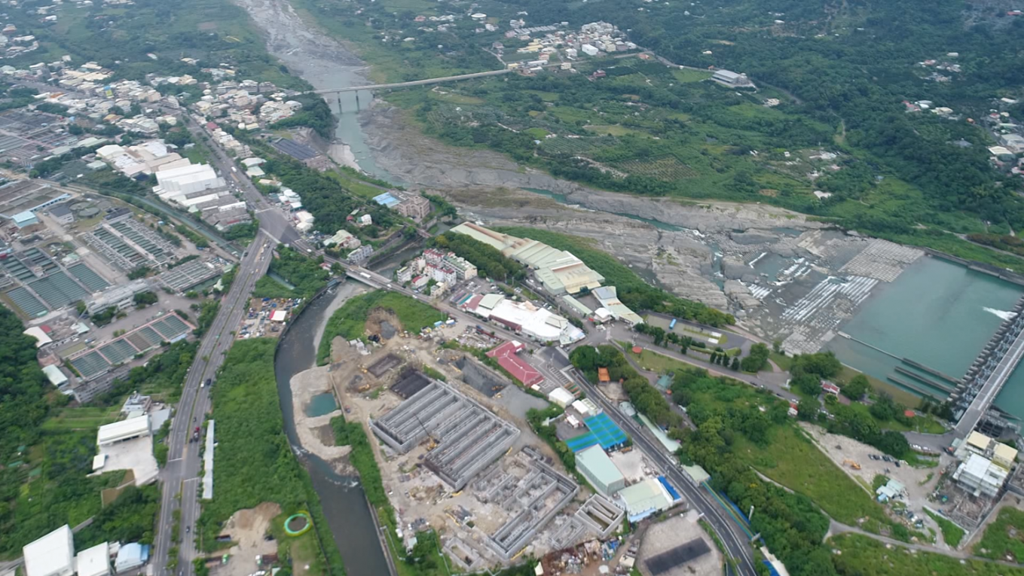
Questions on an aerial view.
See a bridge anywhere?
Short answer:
Yes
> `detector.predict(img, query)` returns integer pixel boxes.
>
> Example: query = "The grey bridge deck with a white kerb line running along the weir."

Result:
[957,329,1024,439]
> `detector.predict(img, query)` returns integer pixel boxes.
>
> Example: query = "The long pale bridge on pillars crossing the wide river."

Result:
[225,67,517,106]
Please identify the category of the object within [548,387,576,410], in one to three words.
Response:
house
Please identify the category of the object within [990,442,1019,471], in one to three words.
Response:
building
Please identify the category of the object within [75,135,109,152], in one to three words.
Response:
building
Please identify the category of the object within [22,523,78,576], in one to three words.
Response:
shed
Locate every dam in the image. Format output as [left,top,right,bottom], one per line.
[950,297,1024,422]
